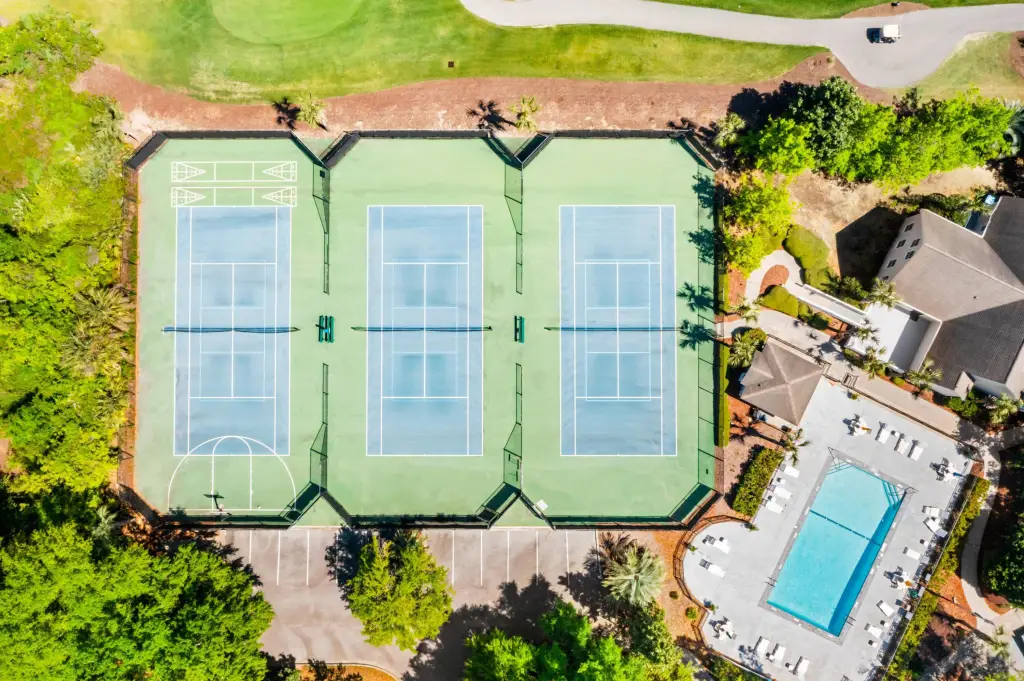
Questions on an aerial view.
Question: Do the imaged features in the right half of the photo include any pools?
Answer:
Yes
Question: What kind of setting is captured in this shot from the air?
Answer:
sports ground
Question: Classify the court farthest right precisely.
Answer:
tennis court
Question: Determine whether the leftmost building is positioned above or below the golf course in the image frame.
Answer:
below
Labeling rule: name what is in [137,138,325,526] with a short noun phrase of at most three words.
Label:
tennis court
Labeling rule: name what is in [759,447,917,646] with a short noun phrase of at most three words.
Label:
swimming pool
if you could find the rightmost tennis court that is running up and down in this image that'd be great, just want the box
[521,138,715,526]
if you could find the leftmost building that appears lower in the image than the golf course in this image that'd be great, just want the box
[729,343,825,427]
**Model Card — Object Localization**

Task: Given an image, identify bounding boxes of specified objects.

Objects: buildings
[729,343,825,427]
[868,195,1024,402]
